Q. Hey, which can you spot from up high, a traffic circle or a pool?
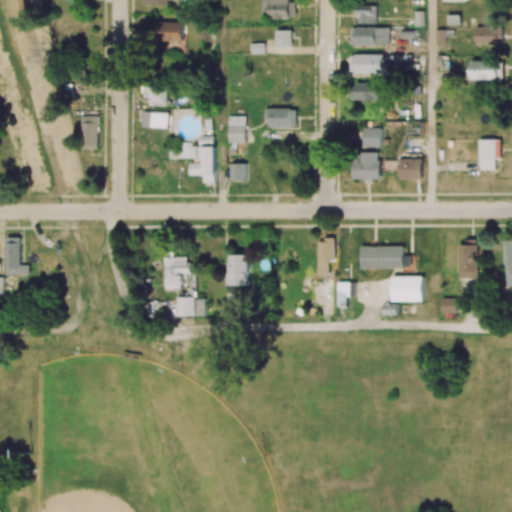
pool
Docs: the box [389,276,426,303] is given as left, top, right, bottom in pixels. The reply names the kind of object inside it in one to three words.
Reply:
barn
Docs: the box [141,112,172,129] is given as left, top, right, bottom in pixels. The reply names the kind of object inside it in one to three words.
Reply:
building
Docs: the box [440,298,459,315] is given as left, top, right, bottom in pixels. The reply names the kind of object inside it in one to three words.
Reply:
shed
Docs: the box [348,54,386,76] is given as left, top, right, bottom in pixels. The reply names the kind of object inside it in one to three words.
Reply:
house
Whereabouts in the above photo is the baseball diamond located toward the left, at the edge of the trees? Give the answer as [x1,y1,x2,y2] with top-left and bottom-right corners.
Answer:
[37,353,280,512]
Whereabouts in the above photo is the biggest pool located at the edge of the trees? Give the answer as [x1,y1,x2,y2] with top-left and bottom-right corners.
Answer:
[177,114,202,138]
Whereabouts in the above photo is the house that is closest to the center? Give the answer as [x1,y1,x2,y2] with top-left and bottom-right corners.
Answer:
[227,255,247,287]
